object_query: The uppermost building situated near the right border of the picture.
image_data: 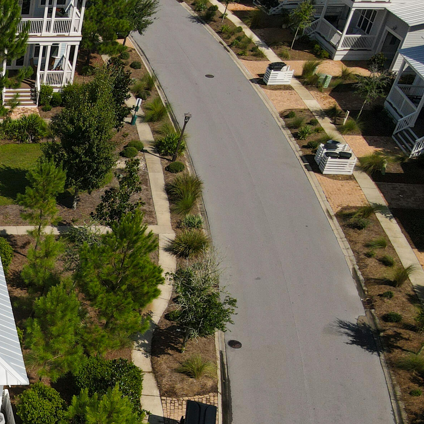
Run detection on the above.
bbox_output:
[289,0,424,70]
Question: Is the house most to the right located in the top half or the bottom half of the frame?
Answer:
top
